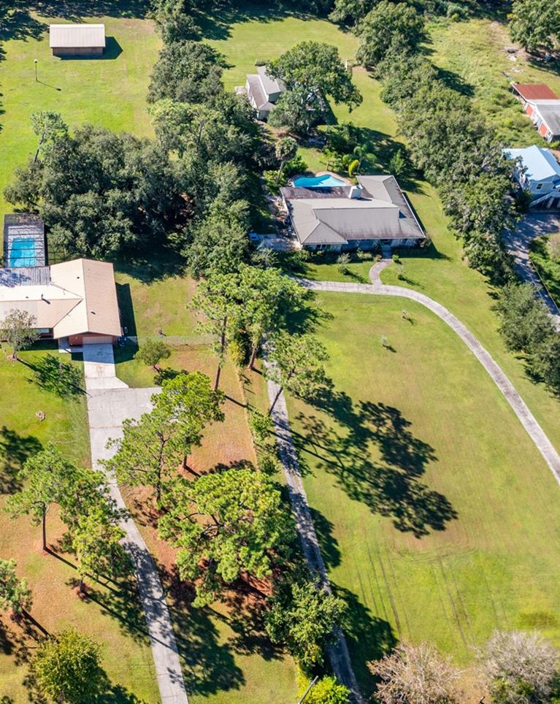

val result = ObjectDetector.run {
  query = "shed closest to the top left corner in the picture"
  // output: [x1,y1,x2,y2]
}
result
[49,25,106,57]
